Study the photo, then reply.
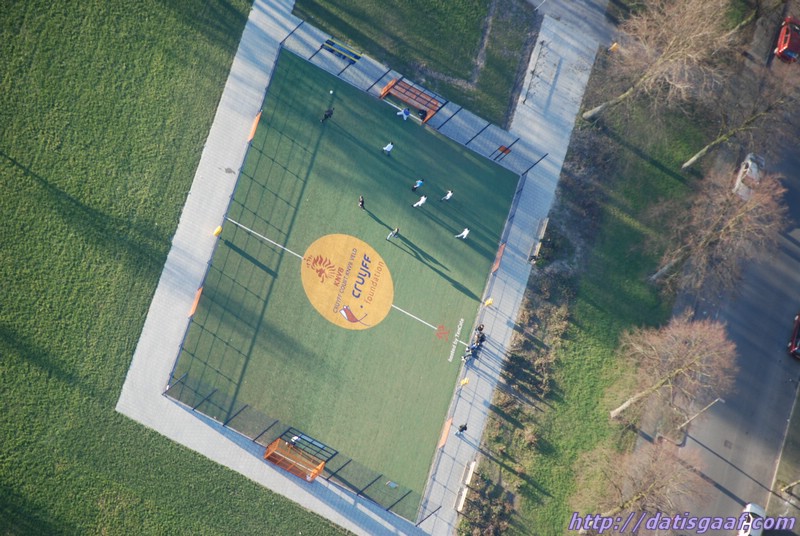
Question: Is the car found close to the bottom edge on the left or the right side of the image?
right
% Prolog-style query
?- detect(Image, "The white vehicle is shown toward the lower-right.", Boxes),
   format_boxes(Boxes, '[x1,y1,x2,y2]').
[738,503,765,536]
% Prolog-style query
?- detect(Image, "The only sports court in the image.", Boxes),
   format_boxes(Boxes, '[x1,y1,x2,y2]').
[163,44,522,526]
